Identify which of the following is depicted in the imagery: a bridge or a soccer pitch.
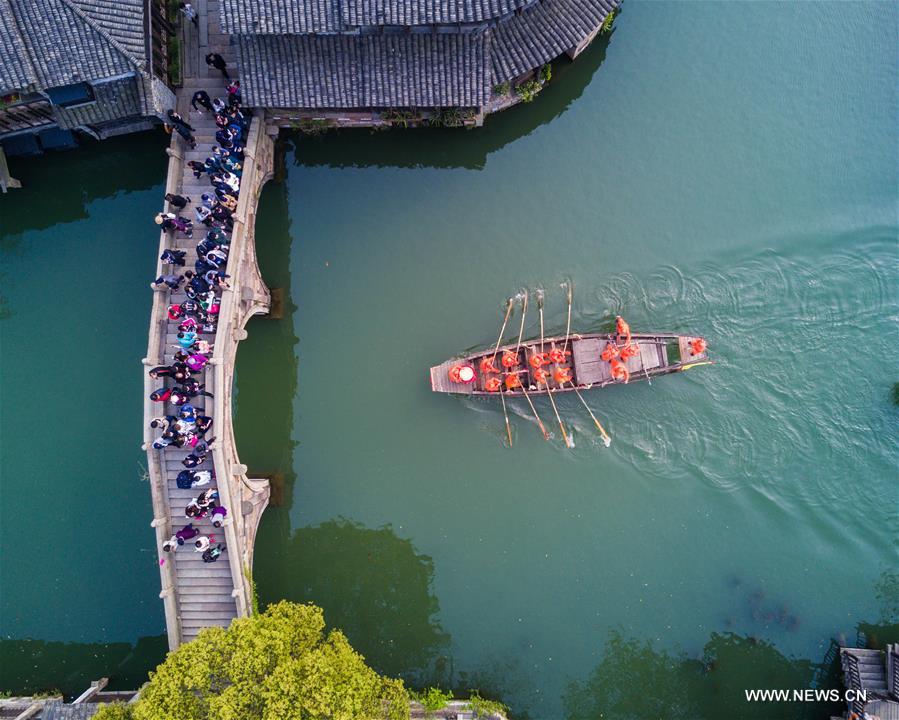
bridge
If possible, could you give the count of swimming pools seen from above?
0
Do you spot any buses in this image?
No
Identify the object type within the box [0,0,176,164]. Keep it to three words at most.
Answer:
house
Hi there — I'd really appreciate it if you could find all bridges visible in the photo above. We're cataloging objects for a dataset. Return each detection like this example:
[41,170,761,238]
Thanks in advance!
[138,104,285,679]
